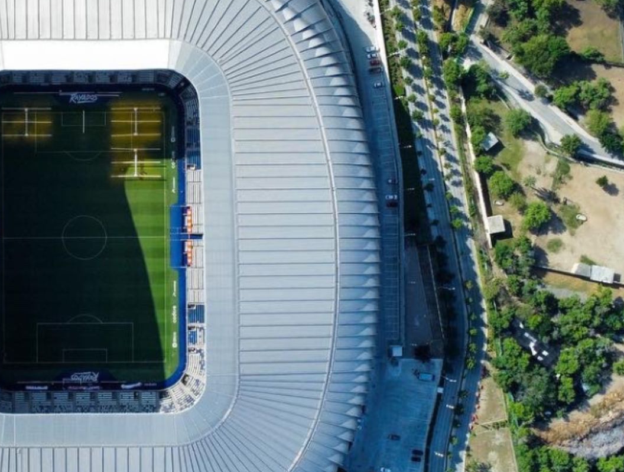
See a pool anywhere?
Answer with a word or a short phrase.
No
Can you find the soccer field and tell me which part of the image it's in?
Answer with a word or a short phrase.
left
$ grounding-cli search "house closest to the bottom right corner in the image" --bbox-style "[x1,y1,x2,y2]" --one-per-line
[508,319,554,362]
